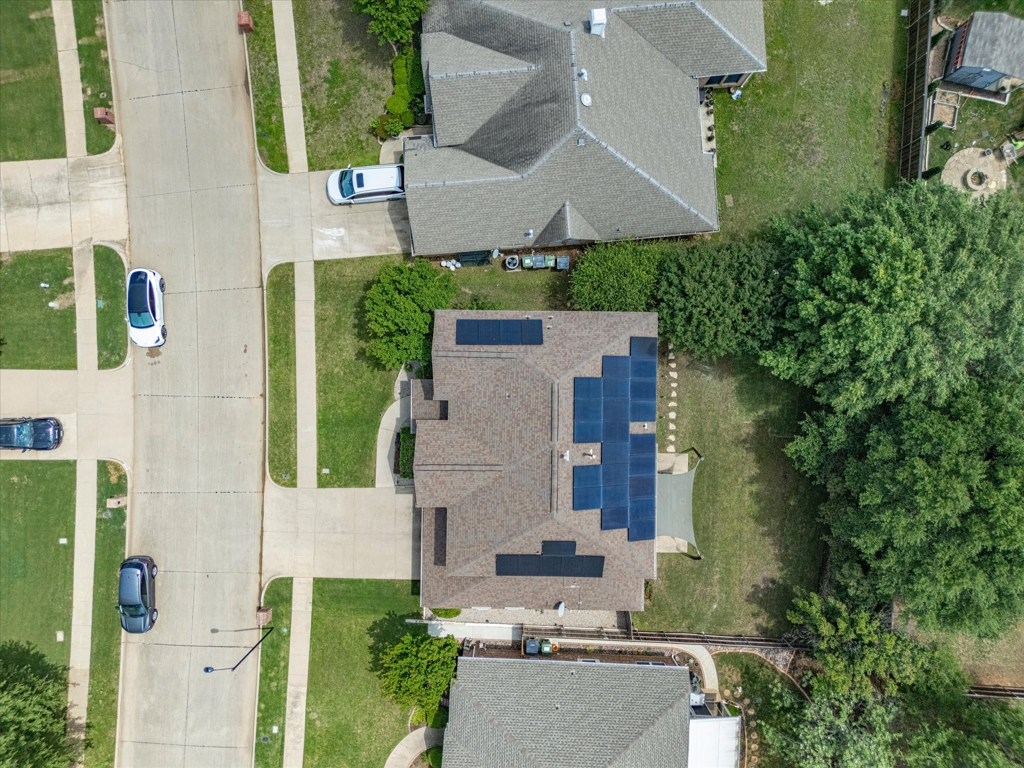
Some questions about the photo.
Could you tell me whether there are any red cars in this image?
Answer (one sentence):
No, the frame has no red car in it.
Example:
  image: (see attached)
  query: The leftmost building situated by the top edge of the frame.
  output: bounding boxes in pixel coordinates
[401,0,768,256]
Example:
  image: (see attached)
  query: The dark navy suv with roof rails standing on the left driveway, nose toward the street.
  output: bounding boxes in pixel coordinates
[0,414,61,456]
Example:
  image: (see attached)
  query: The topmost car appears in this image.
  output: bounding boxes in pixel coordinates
[326,162,406,205]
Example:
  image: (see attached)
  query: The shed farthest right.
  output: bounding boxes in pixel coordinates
[945,11,1024,93]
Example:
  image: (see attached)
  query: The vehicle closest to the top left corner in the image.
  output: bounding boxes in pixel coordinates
[122,267,167,347]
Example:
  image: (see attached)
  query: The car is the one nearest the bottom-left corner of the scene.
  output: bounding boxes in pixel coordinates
[114,560,159,635]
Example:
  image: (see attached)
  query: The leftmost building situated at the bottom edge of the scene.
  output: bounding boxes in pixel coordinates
[441,646,692,768]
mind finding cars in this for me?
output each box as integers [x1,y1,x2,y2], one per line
[0,414,61,456]
[114,560,159,635]
[122,267,167,347]
[326,162,406,205]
